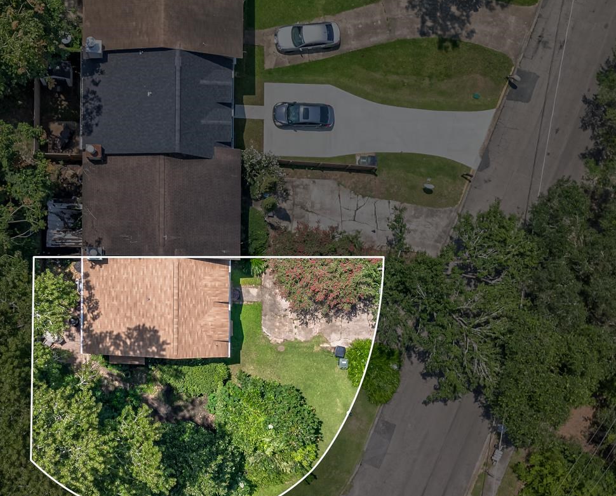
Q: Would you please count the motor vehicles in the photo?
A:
two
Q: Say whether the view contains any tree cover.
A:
Yes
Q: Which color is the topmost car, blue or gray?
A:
gray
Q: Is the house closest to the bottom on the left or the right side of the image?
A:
left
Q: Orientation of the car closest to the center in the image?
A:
horizontally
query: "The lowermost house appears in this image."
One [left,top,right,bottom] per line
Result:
[79,246,245,366]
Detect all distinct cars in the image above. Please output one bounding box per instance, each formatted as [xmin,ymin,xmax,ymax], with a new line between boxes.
[273,98,336,130]
[274,20,342,54]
